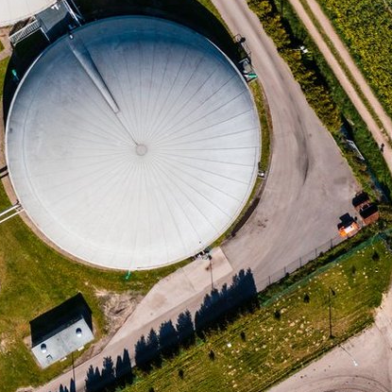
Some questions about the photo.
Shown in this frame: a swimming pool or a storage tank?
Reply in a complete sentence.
The image shows a storage tank.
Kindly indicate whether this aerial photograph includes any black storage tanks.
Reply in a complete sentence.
No, no black storage tank is visible in the scene.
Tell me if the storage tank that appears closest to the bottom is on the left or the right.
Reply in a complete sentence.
The storage tank that appears closest to the bottom is on the left side of the image.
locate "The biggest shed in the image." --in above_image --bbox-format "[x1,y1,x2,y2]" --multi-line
[30,314,94,368]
